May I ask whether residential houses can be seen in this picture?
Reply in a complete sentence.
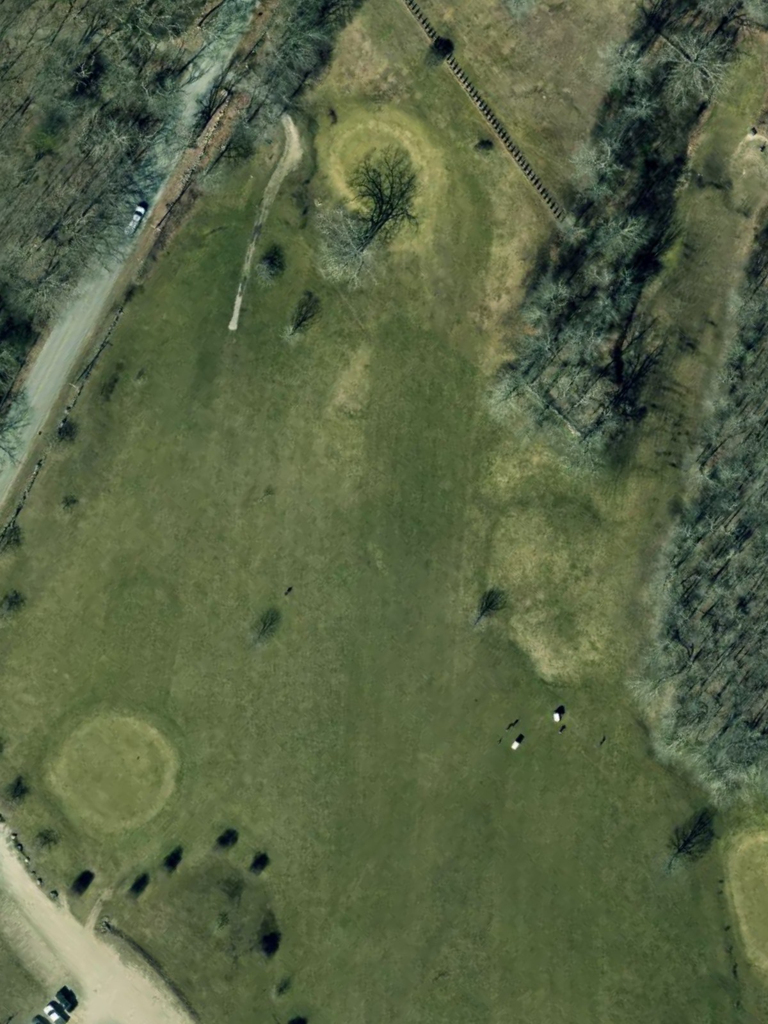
No, no residential house is visible in the view.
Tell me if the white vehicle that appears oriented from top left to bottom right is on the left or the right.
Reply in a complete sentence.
It is on the left.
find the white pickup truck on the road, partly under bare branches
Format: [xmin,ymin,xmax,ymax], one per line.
[124,204,146,235]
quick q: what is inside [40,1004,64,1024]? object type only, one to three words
vehicle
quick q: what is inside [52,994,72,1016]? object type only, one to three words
car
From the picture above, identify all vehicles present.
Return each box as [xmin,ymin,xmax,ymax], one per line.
[124,204,146,235]
[553,712,561,724]
[510,740,520,752]
[52,994,72,1016]
[40,1004,64,1024]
